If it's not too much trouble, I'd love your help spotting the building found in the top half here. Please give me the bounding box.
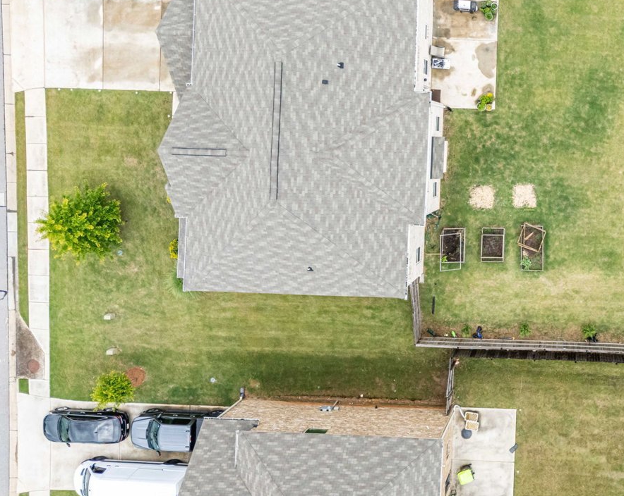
[158,0,455,300]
